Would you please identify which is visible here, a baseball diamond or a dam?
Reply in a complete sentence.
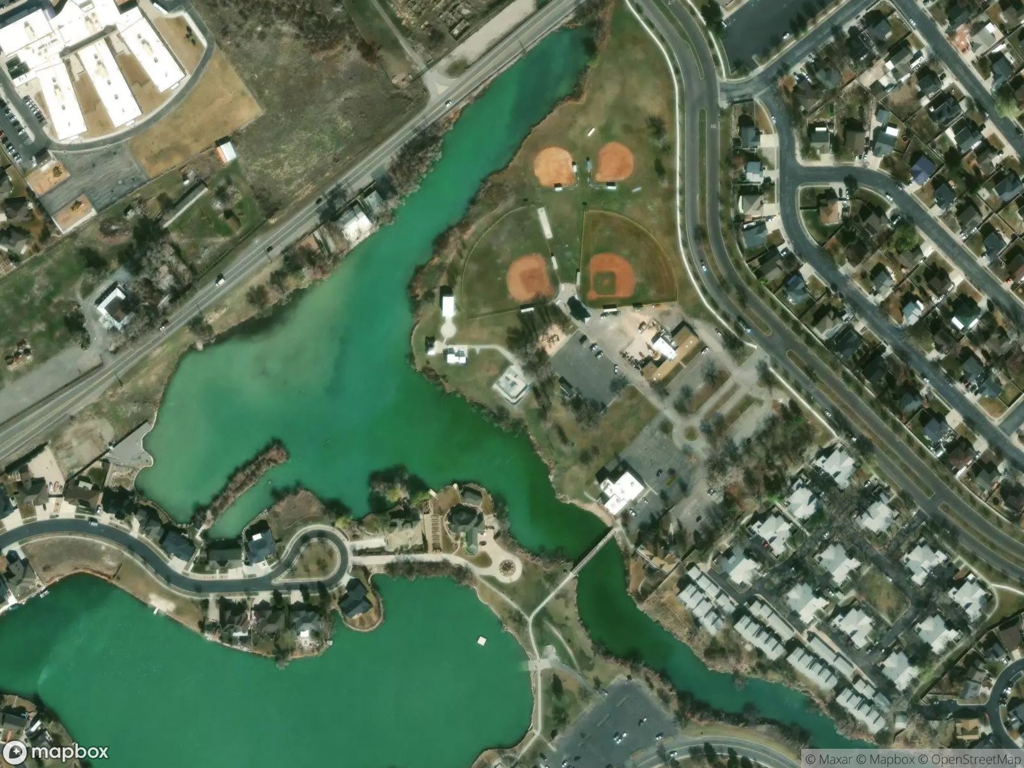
The one in the frame is a baseball diamond.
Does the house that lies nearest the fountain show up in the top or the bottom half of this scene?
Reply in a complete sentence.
It is in the bottom half that the house that lies nearest the fountain appears.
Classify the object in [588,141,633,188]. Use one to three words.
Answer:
baseball field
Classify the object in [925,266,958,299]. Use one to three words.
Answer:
house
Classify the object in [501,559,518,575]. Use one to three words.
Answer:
fountain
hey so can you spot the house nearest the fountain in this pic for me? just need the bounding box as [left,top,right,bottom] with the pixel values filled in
[448,504,485,552]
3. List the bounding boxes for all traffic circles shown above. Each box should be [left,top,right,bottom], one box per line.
[673,415,709,451]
